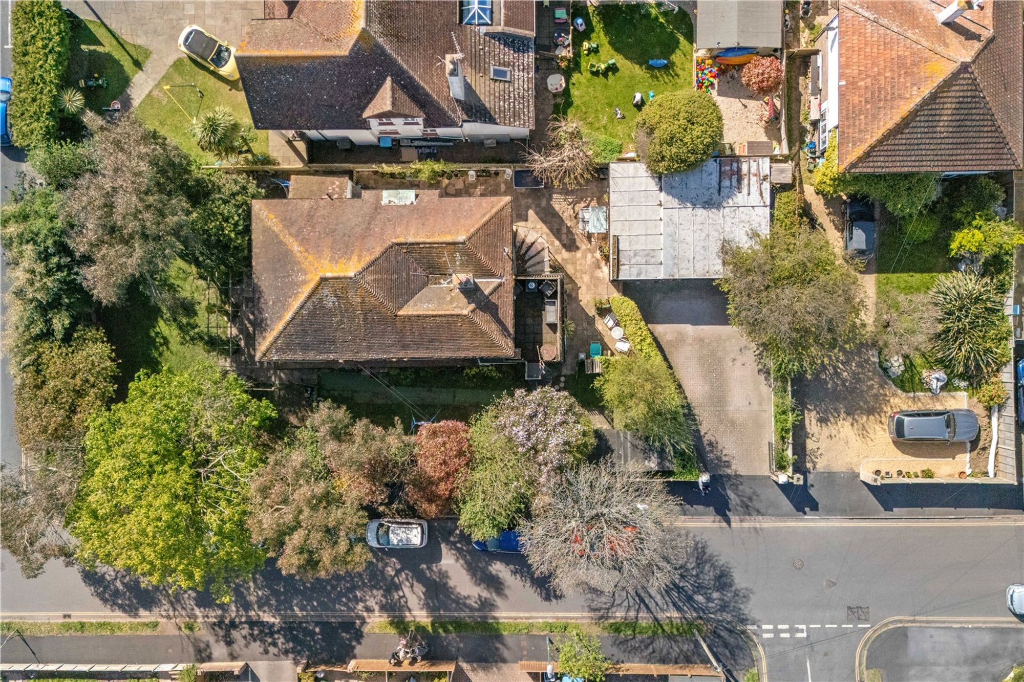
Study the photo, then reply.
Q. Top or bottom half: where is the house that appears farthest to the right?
top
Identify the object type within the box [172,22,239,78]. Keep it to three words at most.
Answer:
car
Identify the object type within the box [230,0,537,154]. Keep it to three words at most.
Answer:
house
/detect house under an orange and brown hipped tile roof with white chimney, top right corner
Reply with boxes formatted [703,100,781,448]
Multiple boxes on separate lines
[795,0,1024,181]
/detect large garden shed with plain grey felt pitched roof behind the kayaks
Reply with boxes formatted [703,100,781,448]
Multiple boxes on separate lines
[689,0,782,59]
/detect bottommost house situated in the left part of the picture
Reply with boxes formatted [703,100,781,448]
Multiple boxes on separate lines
[250,187,525,362]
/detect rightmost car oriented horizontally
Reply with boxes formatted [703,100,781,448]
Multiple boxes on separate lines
[892,406,977,445]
